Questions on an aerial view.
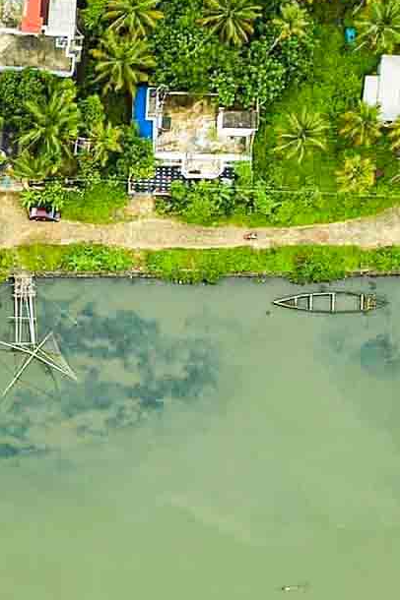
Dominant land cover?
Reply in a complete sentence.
Most of the picture is covered by water.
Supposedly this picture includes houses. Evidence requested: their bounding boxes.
[356,54,400,125]
[0,0,85,79]
[145,84,260,184]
